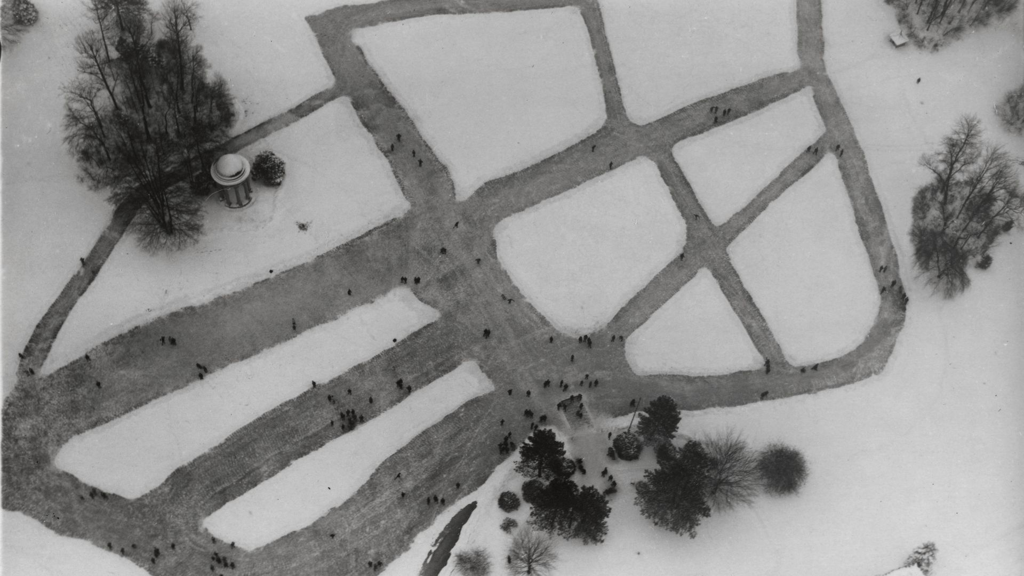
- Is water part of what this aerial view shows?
Yes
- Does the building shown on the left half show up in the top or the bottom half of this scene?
top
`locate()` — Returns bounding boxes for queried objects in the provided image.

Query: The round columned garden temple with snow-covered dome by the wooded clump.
[208,154,255,210]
